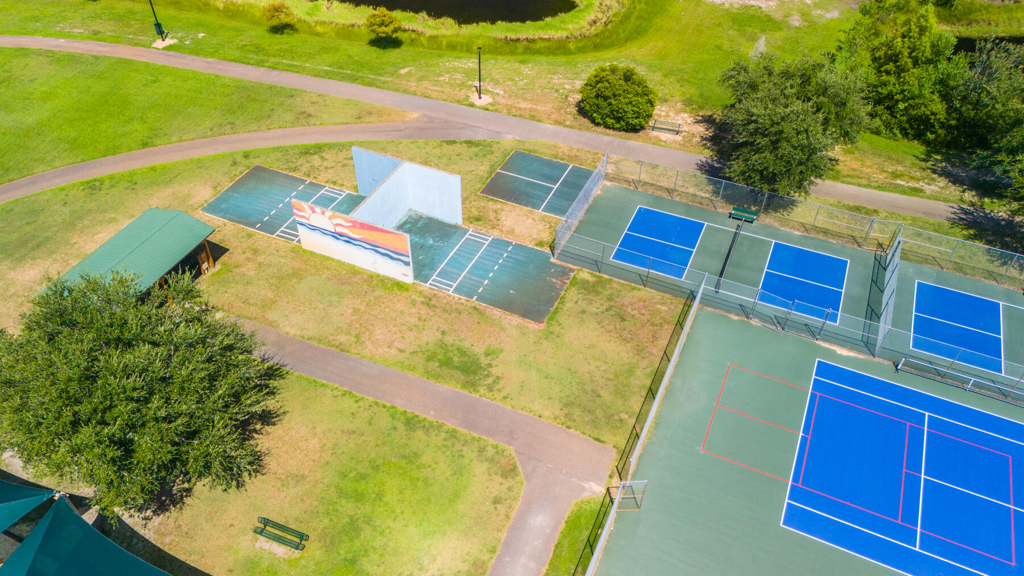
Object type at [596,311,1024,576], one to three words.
tennis court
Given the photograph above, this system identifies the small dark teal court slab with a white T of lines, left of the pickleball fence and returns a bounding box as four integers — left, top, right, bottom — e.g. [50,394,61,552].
[479,150,609,223]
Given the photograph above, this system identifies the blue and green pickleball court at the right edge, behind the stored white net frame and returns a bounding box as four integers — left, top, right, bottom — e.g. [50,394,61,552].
[874,257,1024,404]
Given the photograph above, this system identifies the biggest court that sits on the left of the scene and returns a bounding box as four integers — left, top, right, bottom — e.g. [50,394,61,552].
[200,165,575,324]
